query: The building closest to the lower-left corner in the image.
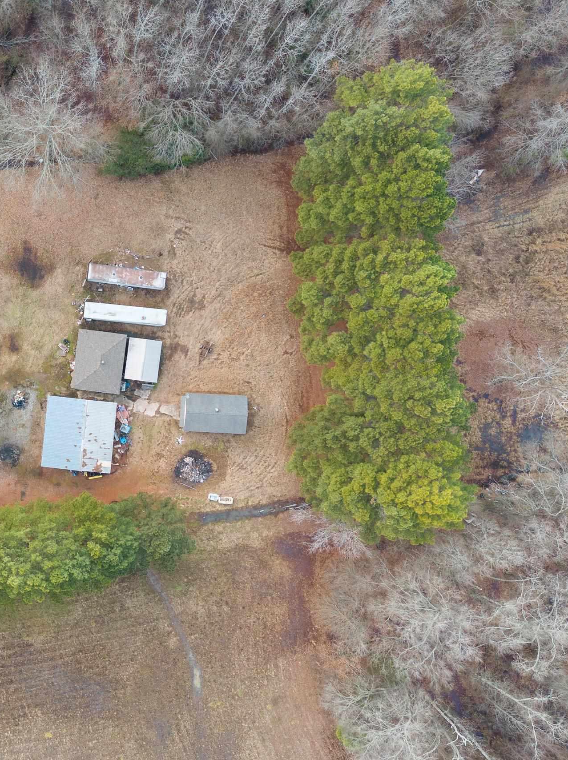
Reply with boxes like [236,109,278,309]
[41,395,117,473]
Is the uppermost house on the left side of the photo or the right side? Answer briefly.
left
